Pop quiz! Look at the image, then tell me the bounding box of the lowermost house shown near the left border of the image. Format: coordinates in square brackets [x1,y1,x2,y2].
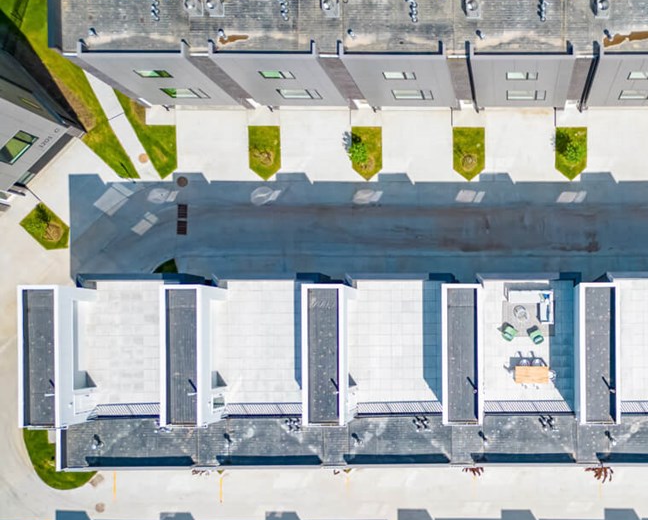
[18,273,218,473]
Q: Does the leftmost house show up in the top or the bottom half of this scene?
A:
top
